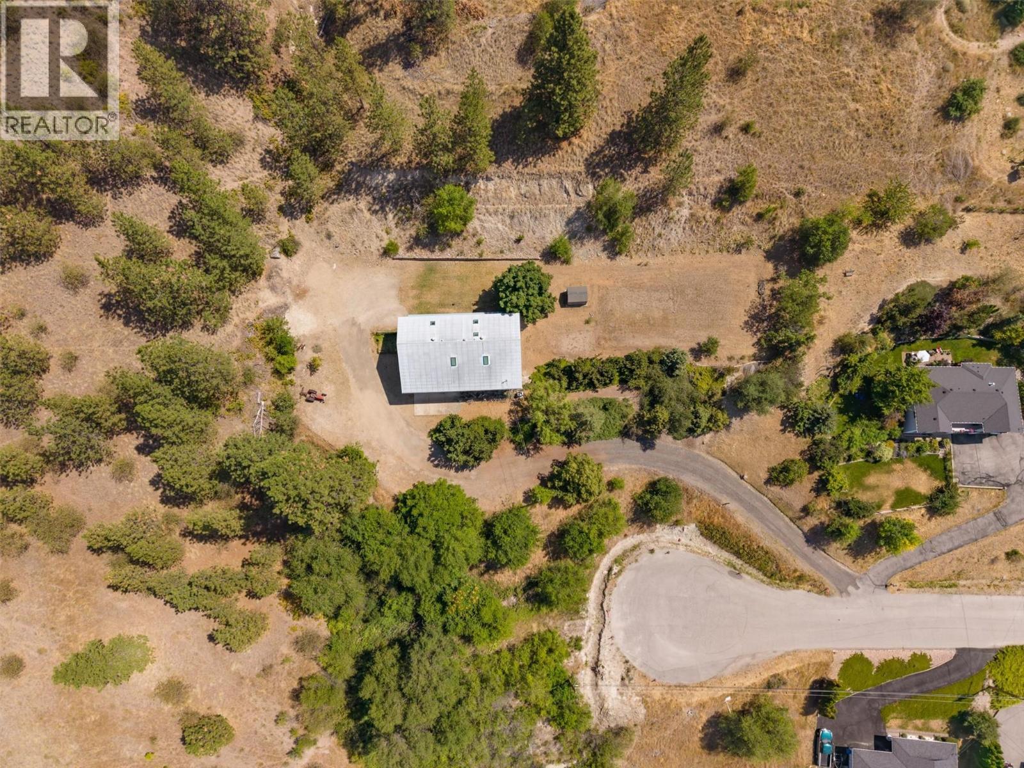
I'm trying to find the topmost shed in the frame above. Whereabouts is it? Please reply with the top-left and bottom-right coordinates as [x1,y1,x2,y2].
[565,287,588,310]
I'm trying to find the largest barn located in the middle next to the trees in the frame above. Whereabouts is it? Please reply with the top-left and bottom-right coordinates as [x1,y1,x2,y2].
[396,311,522,394]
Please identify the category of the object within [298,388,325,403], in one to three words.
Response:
work vehicle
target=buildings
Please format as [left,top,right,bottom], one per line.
[845,732,959,768]
[906,362,1024,433]
[396,311,522,394]
[565,287,588,310]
